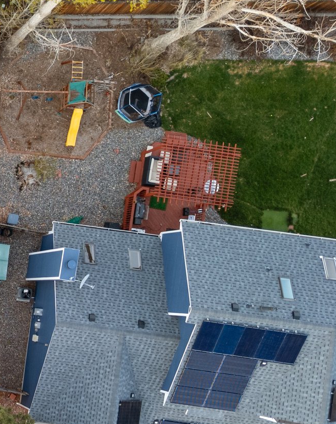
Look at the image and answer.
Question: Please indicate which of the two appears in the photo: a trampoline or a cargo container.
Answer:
trampoline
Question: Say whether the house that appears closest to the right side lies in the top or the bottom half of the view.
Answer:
bottom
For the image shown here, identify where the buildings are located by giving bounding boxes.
[0,241,12,283]
[17,218,336,424]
